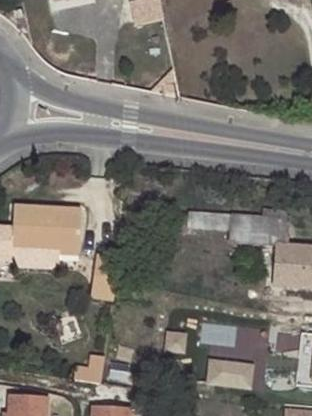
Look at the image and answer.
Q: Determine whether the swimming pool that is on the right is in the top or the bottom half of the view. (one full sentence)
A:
It is in the bottom half that the swimming pool that is on the right appears.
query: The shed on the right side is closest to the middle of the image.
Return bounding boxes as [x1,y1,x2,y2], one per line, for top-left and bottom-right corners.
[188,210,230,232]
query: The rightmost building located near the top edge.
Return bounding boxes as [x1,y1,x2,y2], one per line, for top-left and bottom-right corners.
[130,0,164,26]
